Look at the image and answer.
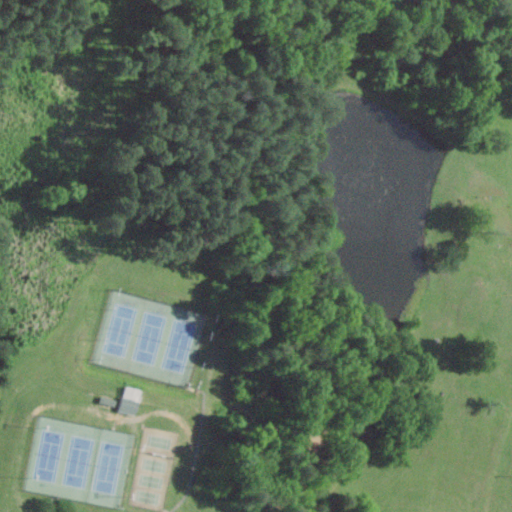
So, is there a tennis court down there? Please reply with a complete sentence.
Yes, a tennis court appears in the view.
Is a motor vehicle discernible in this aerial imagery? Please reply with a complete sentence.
No, there appears to be no motor vehicle in this shot.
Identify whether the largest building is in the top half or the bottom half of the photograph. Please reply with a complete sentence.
It is in the bottom half that the largest building appears.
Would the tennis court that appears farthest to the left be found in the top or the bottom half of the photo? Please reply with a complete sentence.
Seen from above, the tennis court that appears farthest to the left lies in the bottom half of the view.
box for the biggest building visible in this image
[118,388,142,416]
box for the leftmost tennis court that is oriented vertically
[35,432,64,482]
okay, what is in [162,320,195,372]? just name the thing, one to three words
tennis court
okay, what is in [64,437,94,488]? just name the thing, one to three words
tennis court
